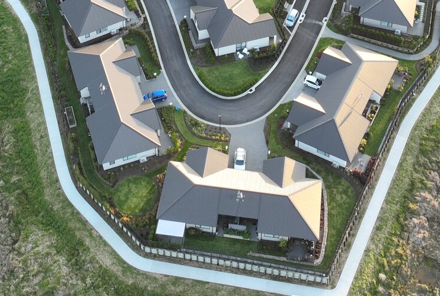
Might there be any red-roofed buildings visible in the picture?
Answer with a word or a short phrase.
No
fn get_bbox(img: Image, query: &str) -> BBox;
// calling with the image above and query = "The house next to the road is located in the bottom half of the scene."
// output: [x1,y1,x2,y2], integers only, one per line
[155,140,322,250]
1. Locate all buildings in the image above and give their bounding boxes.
[67,36,181,169]
[274,39,398,167]
[155,140,322,250]
[338,0,417,33]
[61,0,140,43]
[179,0,274,55]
